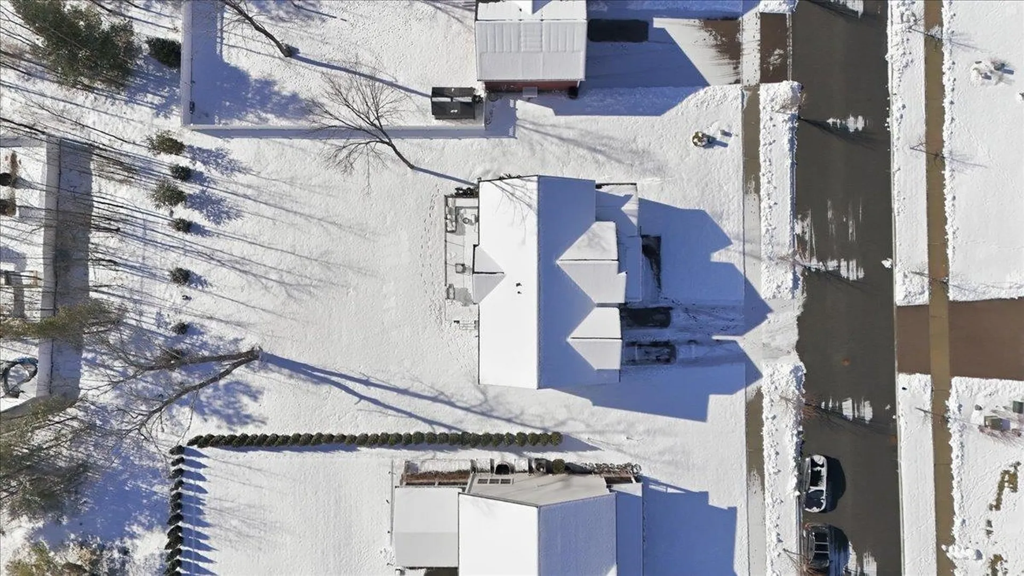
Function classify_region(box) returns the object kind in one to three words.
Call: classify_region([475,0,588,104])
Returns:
house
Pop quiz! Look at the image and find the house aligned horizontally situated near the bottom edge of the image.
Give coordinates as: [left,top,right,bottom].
[391,472,644,576]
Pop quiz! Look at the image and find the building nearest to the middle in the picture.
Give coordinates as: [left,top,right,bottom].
[471,174,641,389]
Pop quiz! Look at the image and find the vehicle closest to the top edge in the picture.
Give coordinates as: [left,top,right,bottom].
[801,454,829,506]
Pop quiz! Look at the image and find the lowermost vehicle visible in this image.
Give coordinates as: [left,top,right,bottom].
[802,519,830,572]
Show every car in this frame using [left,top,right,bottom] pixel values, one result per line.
[802,519,830,572]
[801,454,829,506]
